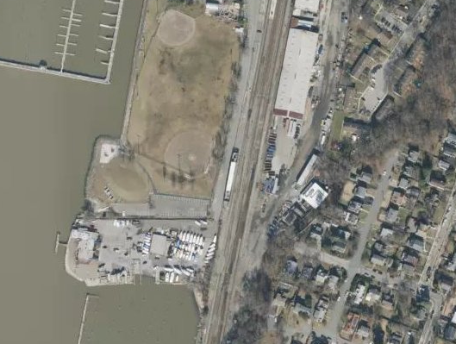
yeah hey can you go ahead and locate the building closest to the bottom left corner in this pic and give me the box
[71,227,101,261]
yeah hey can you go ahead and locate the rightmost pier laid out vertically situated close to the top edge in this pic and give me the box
[96,0,122,80]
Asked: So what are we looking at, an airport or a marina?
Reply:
marina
